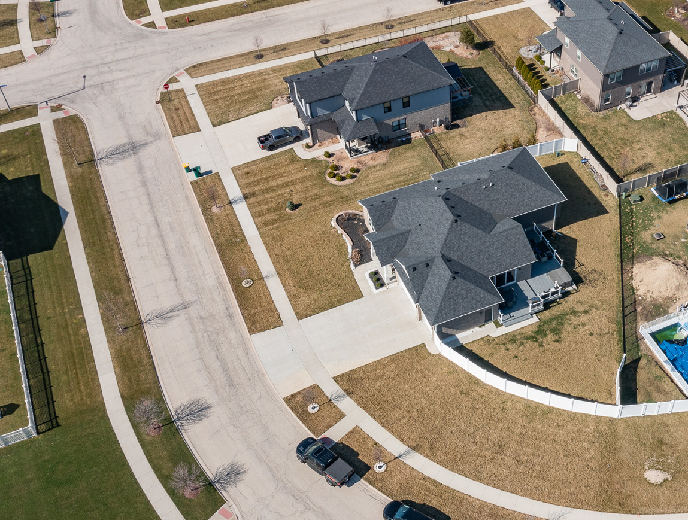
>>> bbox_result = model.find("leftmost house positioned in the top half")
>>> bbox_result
[290,40,455,161]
